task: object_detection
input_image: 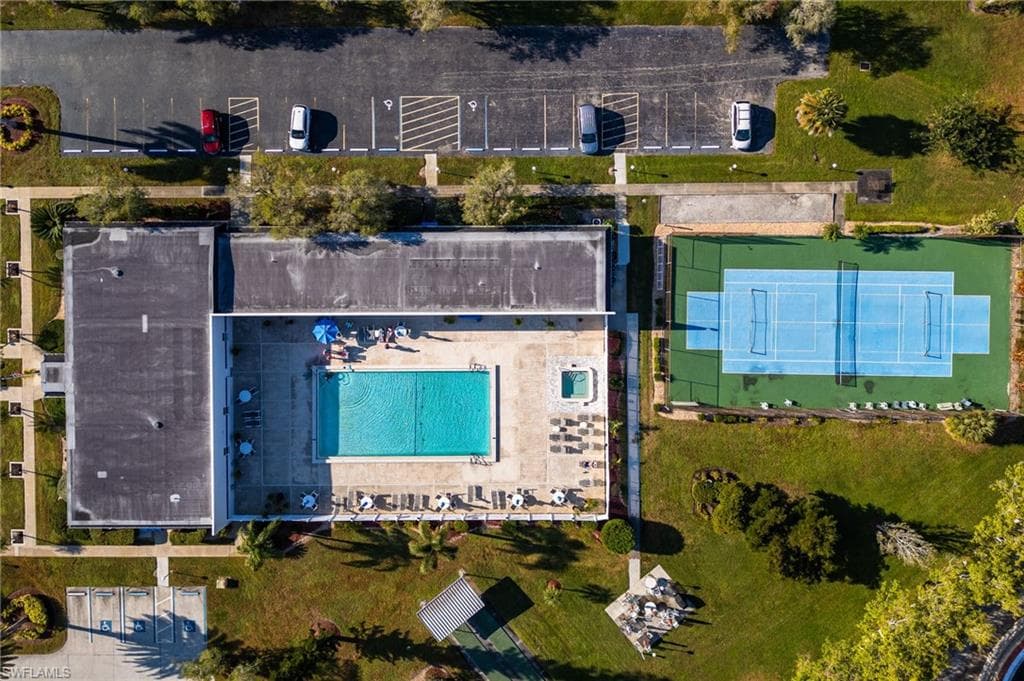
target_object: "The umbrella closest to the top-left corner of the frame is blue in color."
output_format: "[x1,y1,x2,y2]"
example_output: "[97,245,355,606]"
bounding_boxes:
[313,317,341,344]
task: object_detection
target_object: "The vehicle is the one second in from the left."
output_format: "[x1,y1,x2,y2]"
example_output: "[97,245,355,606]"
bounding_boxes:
[285,103,310,152]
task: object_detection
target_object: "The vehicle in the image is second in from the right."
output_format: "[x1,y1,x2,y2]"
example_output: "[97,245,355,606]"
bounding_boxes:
[577,103,600,155]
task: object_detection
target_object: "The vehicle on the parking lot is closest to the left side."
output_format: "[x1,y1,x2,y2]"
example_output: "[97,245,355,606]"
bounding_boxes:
[197,109,222,154]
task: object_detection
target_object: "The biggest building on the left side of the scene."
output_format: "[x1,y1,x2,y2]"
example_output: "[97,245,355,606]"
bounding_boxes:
[41,220,616,536]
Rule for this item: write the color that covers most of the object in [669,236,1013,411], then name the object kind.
blue tennis court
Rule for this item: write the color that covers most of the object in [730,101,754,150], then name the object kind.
white car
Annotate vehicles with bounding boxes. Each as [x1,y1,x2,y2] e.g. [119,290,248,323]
[285,103,310,152]
[577,103,600,155]
[197,109,222,154]
[730,101,754,150]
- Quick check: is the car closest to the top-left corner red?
Yes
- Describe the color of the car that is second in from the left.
white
